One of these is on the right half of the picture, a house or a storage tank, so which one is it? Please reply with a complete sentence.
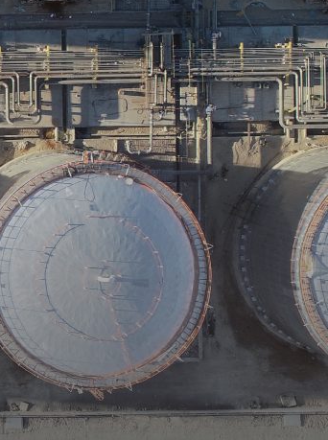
Looking on the right half of the picture, you will find a storage tank.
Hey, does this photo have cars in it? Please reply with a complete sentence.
No, I can't see a single car in this photo.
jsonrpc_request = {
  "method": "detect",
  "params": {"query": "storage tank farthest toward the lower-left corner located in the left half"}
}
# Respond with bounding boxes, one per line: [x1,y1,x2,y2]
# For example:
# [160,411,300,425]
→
[0,149,209,387]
